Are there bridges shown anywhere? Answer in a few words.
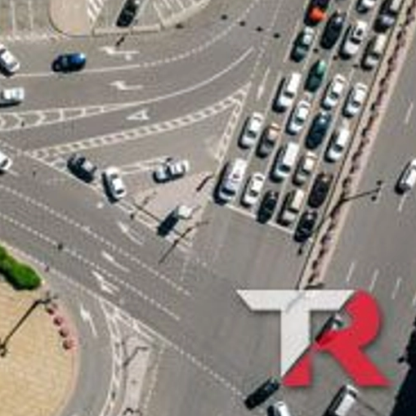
No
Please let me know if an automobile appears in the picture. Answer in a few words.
Yes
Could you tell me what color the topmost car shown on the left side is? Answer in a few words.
black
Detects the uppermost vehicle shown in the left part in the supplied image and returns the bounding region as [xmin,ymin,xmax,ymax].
[117,0,141,29]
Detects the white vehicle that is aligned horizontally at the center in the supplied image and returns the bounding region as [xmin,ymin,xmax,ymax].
[151,160,188,181]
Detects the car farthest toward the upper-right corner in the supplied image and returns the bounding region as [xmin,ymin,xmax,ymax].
[373,0,401,32]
